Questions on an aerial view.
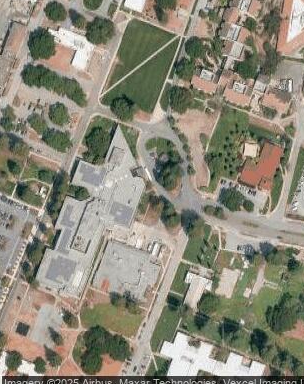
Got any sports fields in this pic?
Yes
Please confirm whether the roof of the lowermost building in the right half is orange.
No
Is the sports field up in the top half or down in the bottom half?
top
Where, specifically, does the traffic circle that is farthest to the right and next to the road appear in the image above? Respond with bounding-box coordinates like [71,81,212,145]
[147,135,186,194]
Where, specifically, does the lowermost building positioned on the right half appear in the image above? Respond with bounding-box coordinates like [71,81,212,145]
[161,332,266,384]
